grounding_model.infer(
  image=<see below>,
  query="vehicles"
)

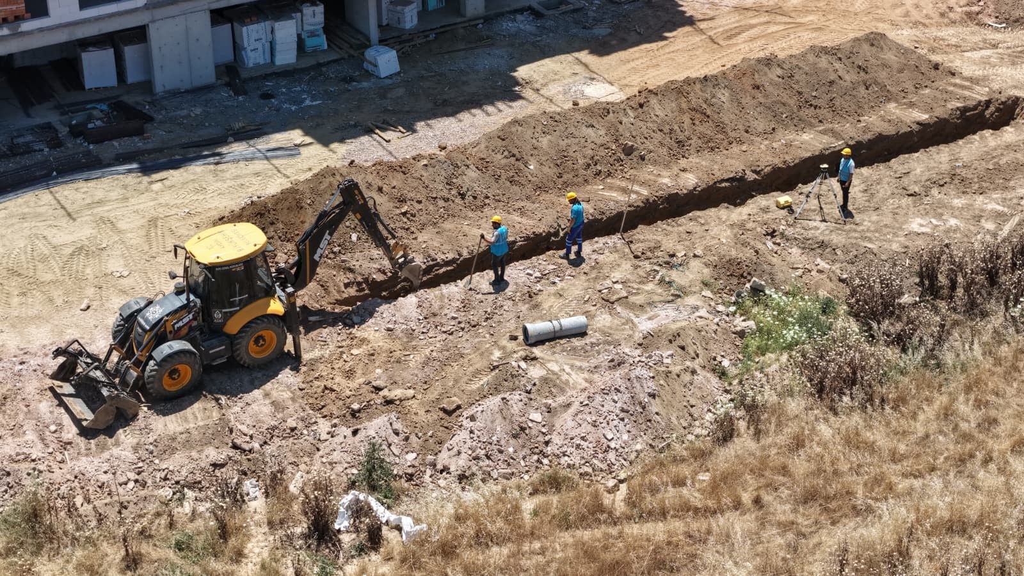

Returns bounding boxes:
[51,171,423,429]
